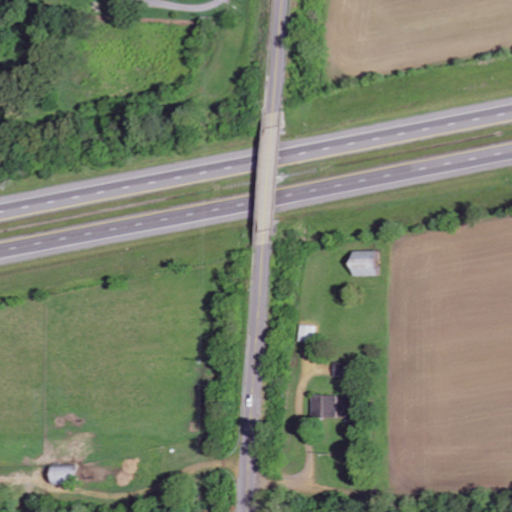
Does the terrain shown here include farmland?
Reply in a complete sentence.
Yes, there's farmland in this view.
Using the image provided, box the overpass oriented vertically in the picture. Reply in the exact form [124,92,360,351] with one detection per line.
[252,112,287,244]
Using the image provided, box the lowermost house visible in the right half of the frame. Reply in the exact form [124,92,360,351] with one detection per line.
[310,394,341,420]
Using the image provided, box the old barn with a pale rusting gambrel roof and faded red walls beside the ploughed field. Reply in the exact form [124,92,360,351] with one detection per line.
[347,250,379,276]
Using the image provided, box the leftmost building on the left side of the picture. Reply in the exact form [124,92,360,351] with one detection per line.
[47,464,81,486]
